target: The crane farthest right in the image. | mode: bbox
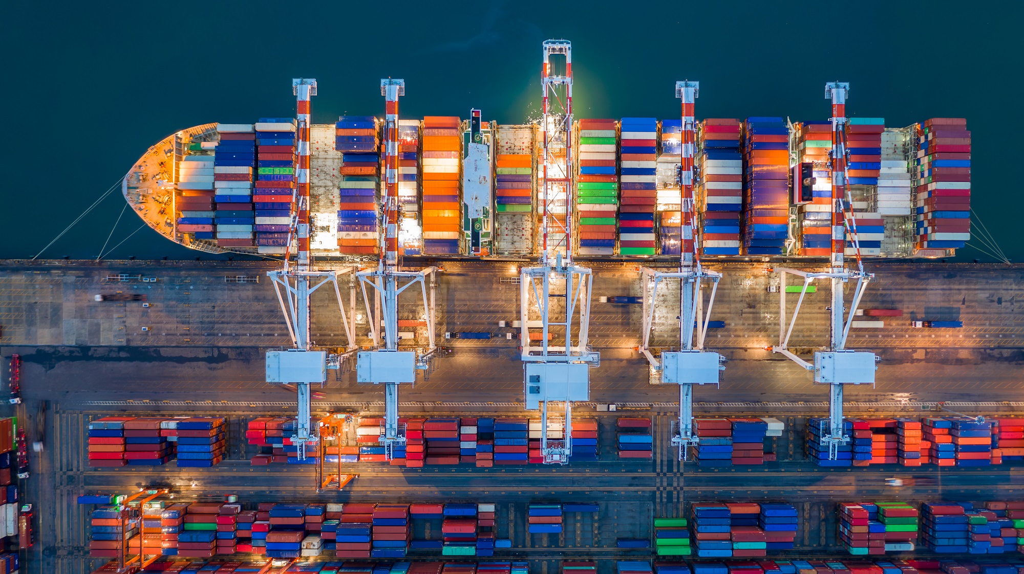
[749,80,885,461]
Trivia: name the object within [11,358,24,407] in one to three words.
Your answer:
vehicle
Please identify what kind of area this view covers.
port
